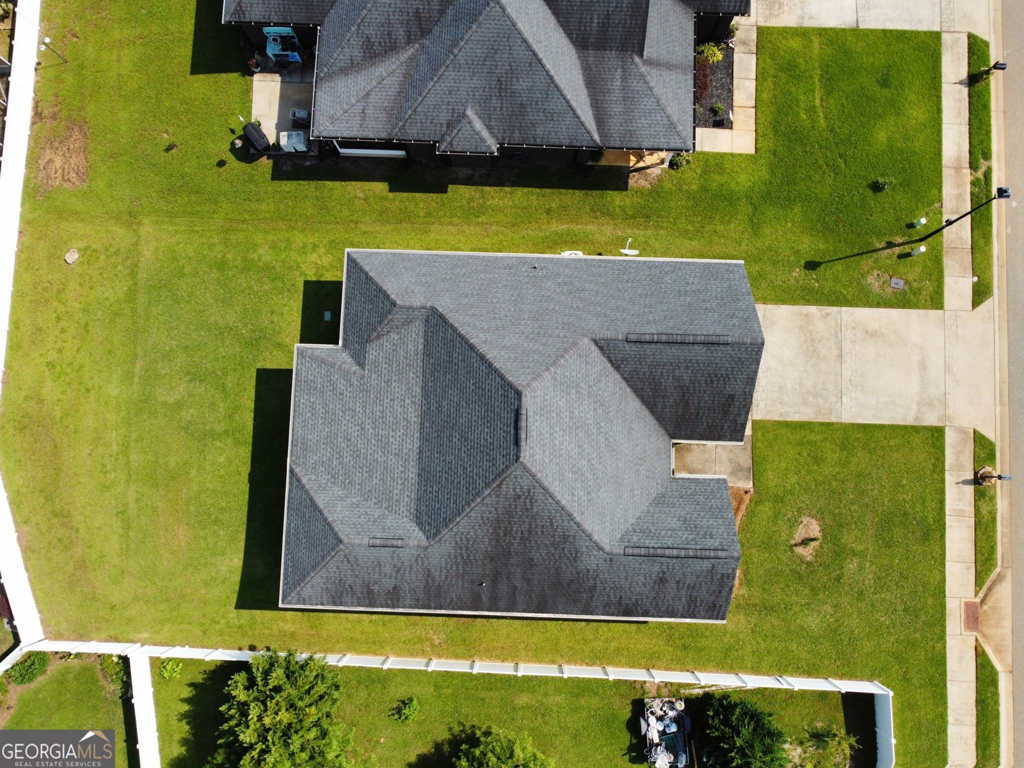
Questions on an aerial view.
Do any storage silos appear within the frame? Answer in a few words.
No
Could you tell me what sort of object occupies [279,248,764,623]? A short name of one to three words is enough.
house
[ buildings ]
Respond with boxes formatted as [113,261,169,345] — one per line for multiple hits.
[279,248,764,623]
[222,0,753,168]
